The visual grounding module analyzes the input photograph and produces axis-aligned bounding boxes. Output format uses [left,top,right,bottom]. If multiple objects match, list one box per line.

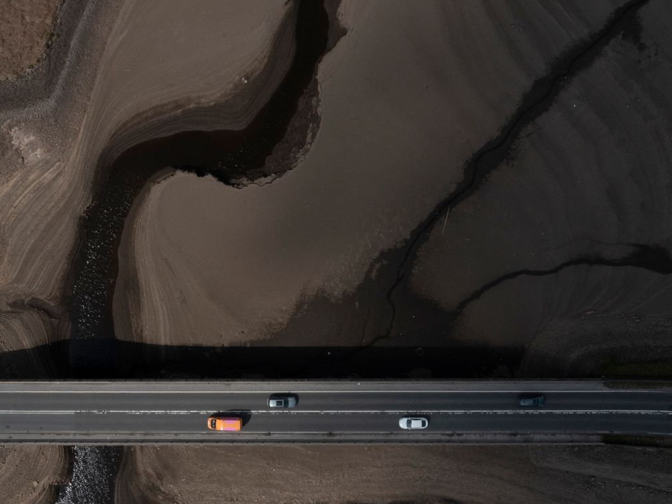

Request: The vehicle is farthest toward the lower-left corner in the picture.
[208,417,243,431]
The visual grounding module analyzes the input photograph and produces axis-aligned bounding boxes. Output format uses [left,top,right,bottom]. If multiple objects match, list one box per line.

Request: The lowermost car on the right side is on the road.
[398,417,427,430]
